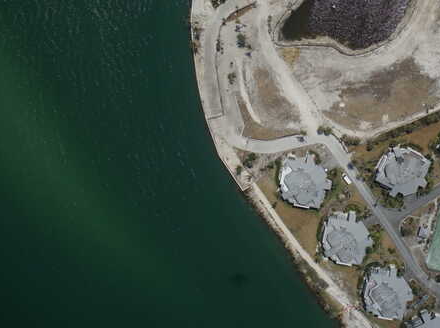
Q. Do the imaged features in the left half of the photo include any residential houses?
No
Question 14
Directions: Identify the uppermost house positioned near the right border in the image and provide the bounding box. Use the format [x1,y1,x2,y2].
[375,147,431,197]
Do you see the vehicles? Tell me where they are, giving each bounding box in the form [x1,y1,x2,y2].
[341,173,352,184]
[419,296,427,303]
